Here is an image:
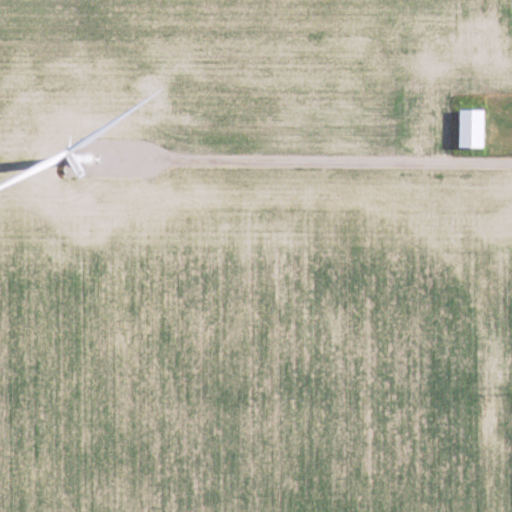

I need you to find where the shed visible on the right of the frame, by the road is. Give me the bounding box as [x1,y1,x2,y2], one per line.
[459,109,486,150]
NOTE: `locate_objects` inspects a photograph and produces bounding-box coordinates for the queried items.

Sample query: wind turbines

[0,88,158,186]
